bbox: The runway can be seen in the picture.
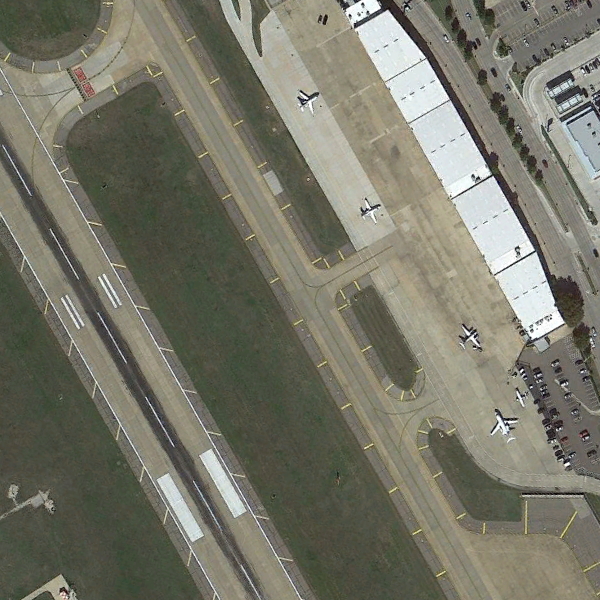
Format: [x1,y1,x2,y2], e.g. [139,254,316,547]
[0,67,305,600]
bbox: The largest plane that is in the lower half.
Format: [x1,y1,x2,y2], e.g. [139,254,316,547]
[491,411,519,444]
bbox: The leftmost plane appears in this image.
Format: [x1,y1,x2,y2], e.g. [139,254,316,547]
[295,90,319,115]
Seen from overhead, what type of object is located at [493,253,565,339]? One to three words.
hangar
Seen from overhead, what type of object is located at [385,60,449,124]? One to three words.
hangar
